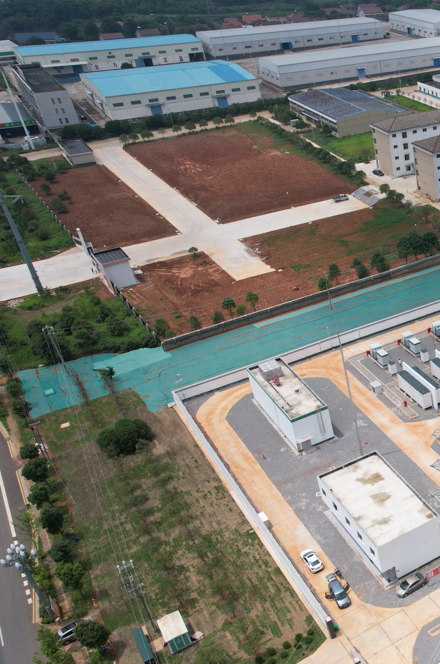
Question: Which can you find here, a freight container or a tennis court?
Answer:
freight container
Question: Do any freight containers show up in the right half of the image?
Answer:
Yes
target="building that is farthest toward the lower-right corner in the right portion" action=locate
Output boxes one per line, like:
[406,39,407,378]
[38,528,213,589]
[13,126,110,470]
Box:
[316,449,440,596]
